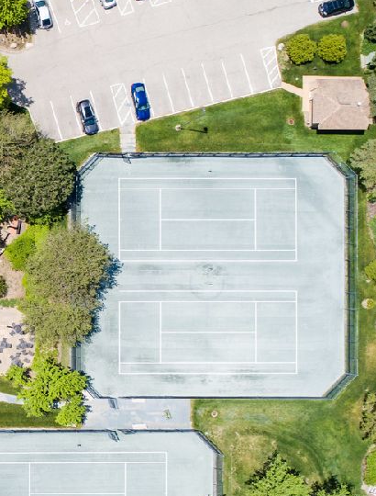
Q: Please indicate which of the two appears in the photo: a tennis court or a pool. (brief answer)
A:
tennis court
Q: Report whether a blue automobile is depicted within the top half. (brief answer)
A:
Yes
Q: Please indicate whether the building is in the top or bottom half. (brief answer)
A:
top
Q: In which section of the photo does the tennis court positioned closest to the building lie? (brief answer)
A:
center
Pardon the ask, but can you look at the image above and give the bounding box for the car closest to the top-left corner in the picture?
[34,0,57,29]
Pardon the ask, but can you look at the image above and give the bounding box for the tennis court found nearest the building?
[118,178,298,261]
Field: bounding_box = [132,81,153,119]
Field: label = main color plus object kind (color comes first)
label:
blue car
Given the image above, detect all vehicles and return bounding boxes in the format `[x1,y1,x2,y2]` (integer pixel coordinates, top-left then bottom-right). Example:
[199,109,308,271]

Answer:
[132,81,153,119]
[77,97,99,134]
[34,0,57,29]
[101,0,117,9]
[319,0,360,15]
